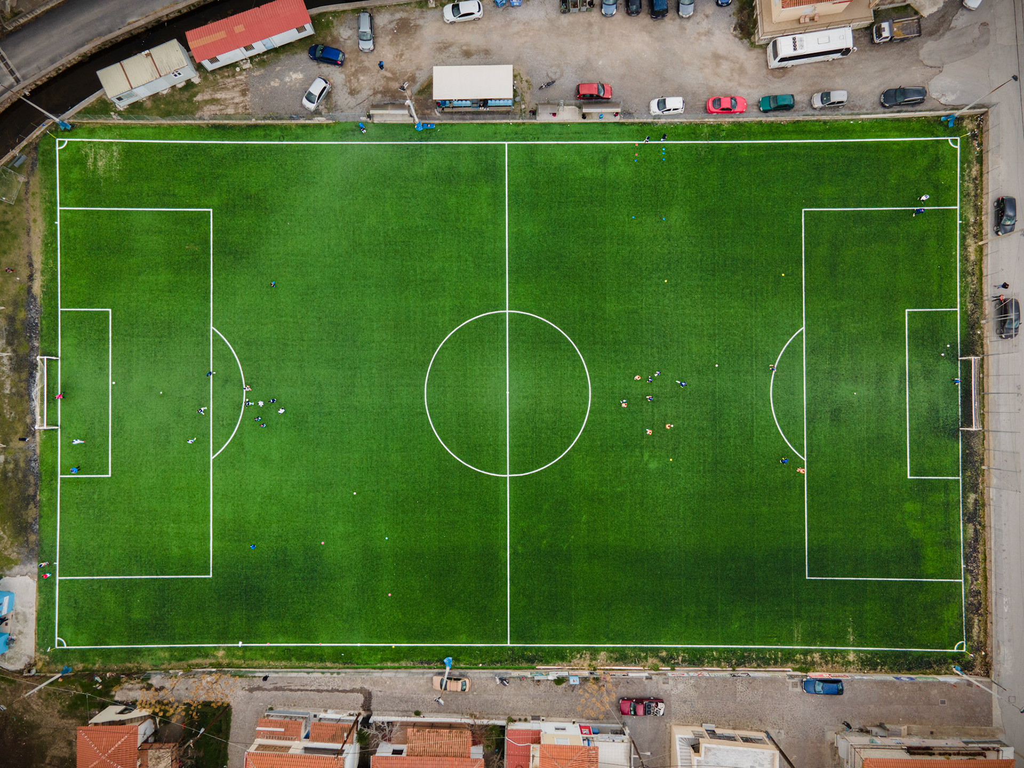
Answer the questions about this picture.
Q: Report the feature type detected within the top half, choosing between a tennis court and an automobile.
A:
automobile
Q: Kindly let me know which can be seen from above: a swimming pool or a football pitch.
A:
football pitch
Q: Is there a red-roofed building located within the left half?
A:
Yes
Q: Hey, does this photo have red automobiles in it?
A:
Yes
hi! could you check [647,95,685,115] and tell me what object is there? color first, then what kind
white car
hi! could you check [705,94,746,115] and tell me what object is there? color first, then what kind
red car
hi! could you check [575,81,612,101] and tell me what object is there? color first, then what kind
red car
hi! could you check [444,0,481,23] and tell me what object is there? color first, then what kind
white car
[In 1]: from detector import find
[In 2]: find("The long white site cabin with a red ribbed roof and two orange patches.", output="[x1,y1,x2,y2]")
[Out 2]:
[184,0,314,70]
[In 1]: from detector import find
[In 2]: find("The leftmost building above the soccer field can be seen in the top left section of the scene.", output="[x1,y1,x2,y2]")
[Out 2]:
[97,39,198,108]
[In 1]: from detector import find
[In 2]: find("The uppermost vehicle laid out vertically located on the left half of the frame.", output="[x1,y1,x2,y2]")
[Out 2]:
[355,11,375,55]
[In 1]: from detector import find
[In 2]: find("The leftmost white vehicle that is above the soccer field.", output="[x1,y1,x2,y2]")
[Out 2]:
[303,75,331,112]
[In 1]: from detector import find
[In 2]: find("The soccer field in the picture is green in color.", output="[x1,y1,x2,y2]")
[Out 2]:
[35,118,991,675]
